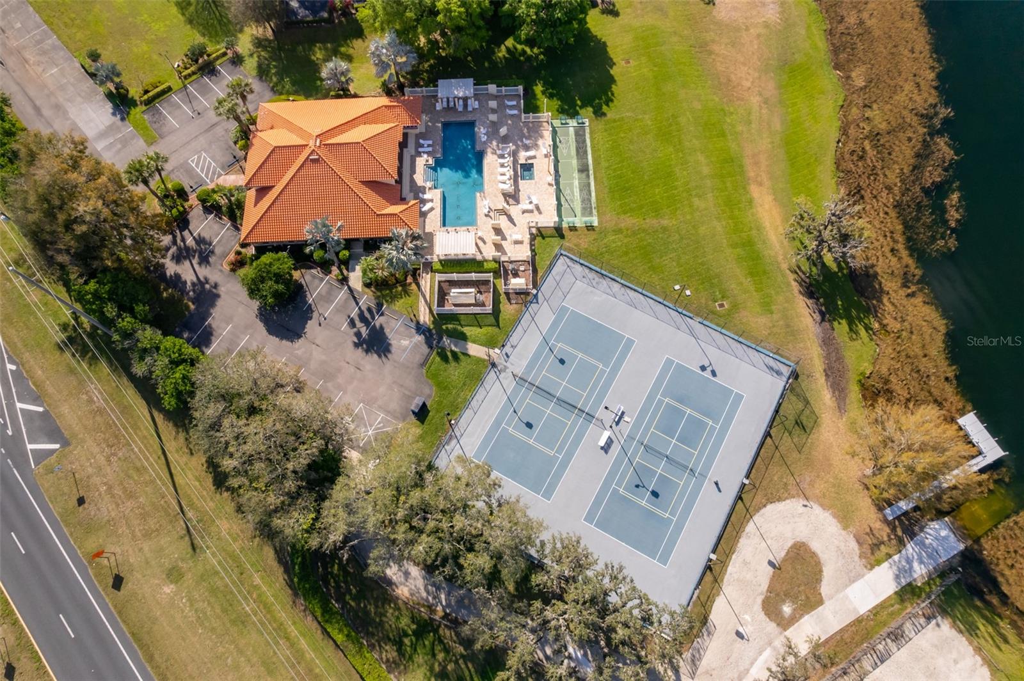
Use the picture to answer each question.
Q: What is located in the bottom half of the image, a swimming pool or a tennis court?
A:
tennis court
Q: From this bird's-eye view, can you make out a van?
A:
No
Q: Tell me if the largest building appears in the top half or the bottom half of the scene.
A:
top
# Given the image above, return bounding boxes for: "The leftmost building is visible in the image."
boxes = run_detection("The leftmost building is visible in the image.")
[240,94,433,249]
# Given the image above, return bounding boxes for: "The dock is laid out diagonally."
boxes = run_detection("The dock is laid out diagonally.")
[883,408,1015,521]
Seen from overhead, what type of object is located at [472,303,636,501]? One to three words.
tennis court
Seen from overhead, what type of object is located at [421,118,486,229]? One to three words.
swimming pool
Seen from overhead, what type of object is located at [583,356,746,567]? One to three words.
tennis court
